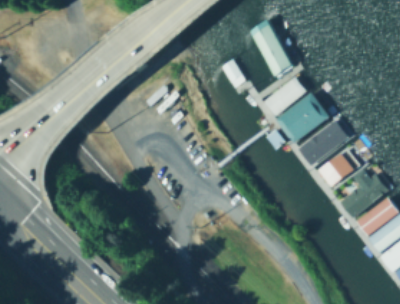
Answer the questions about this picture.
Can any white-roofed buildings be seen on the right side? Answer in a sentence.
Yes, a white-roofed building appears on the right side.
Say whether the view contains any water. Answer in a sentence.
Yes, water can be seen from above here.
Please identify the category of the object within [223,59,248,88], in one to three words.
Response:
house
